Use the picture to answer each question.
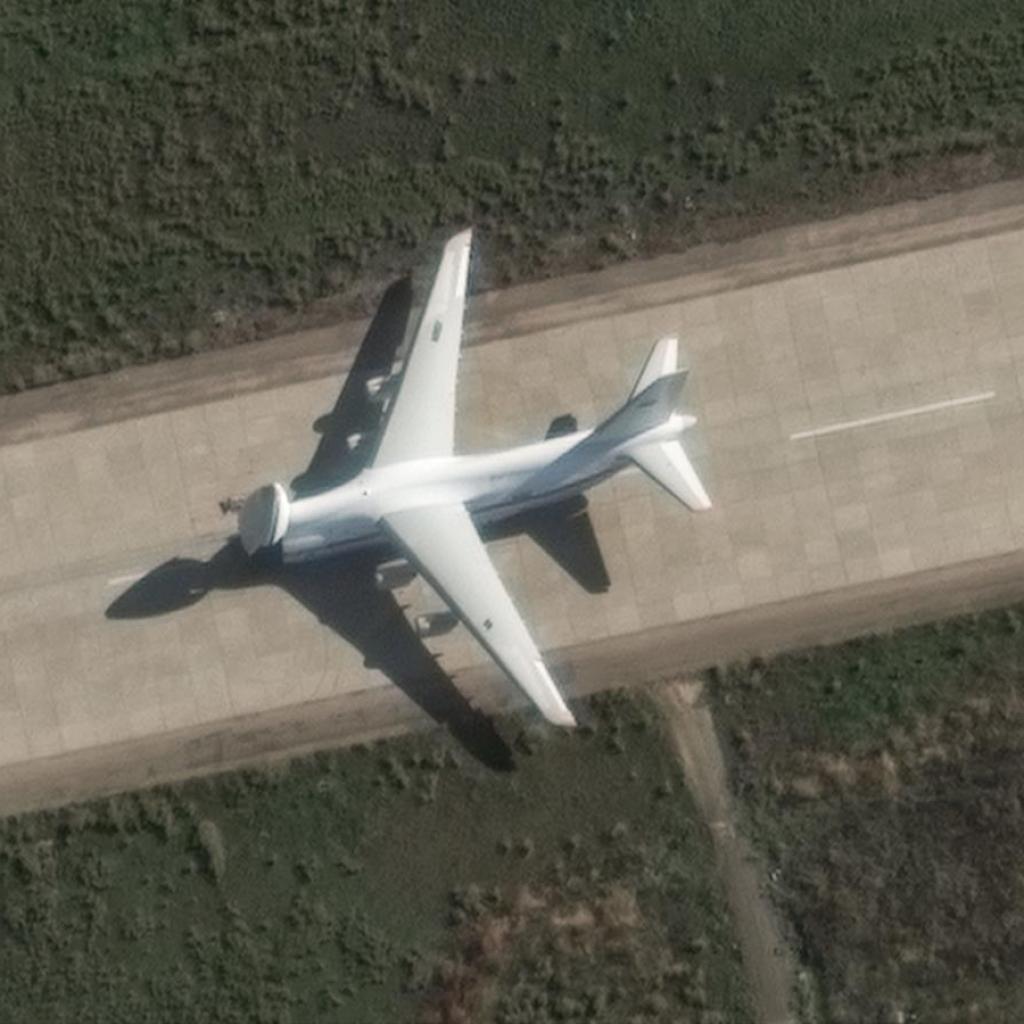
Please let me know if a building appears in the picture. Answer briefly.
No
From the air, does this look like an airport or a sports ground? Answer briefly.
airport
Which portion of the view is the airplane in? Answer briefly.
center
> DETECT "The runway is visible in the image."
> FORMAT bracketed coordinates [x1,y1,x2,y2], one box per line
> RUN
[0,231,1024,767]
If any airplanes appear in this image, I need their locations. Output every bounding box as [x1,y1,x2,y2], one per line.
[238,230,712,727]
